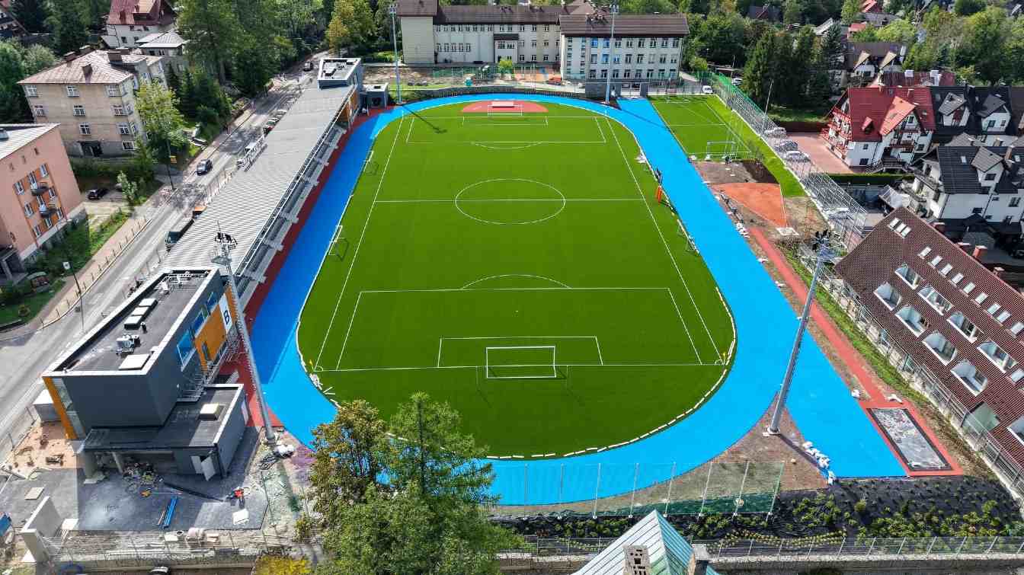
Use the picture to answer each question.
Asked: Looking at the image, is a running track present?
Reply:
Yes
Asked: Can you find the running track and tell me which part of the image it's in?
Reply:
center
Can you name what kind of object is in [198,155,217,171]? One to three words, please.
car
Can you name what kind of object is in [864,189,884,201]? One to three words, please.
vehicle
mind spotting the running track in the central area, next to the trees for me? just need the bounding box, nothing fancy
[249,93,782,506]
